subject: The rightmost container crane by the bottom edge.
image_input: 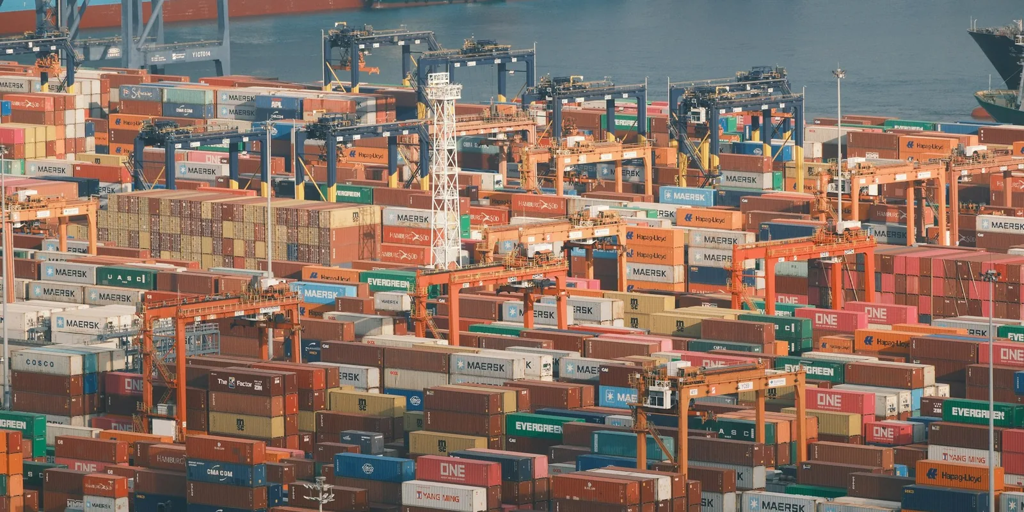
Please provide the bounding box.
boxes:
[618,351,807,493]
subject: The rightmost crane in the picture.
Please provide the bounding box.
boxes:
[901,142,1024,254]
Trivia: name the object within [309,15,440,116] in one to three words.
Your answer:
container crane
